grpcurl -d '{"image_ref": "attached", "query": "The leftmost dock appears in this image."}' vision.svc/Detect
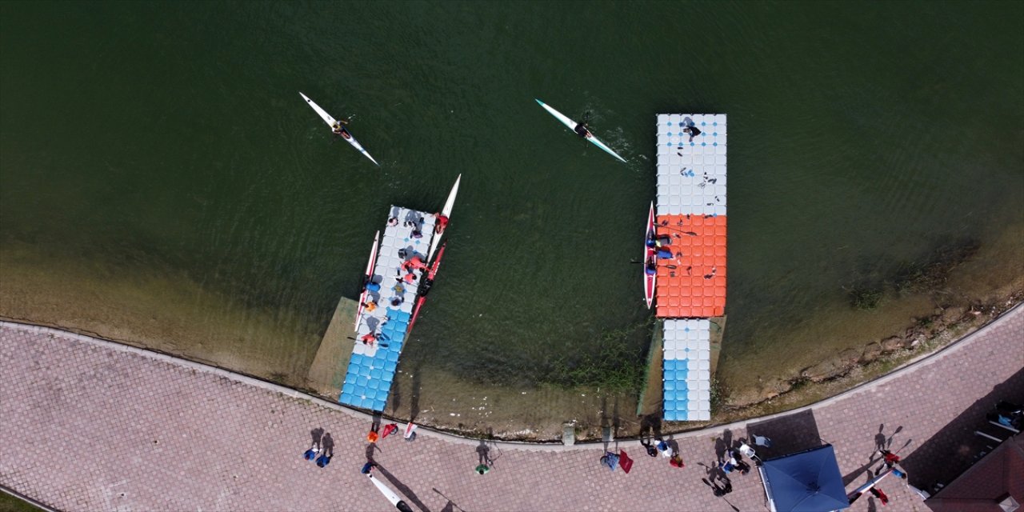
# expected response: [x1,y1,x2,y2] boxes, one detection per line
[339,205,437,413]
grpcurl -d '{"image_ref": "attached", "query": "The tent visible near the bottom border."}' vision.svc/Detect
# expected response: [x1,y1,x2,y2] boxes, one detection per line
[754,436,850,512]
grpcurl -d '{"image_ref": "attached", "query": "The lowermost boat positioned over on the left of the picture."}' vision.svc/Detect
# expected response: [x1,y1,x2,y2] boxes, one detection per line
[369,476,414,512]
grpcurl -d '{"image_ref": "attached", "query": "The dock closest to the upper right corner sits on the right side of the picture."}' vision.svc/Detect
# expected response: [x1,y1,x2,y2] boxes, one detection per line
[656,113,727,318]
